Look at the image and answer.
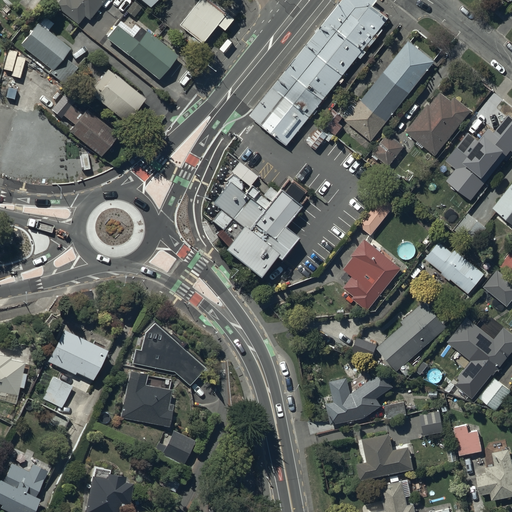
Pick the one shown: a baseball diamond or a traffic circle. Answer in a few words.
traffic circle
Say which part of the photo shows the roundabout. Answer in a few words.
left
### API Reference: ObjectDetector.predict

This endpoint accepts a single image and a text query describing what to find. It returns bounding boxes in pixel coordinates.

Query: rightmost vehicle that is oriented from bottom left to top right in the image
[470,116,485,132]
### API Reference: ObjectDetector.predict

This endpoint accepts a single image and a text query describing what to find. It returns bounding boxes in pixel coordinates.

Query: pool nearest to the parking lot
[396,240,415,260]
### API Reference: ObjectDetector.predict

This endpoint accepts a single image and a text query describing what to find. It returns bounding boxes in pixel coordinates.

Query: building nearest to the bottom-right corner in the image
[476,450,512,501]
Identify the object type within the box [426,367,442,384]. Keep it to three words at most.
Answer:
swimming pool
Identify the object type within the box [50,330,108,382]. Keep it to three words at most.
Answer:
house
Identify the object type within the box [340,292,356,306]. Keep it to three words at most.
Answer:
car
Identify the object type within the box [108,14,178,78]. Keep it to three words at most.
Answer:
building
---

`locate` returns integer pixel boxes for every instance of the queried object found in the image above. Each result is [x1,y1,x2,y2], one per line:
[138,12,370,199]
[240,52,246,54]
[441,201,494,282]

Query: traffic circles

[86,198,146,258]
